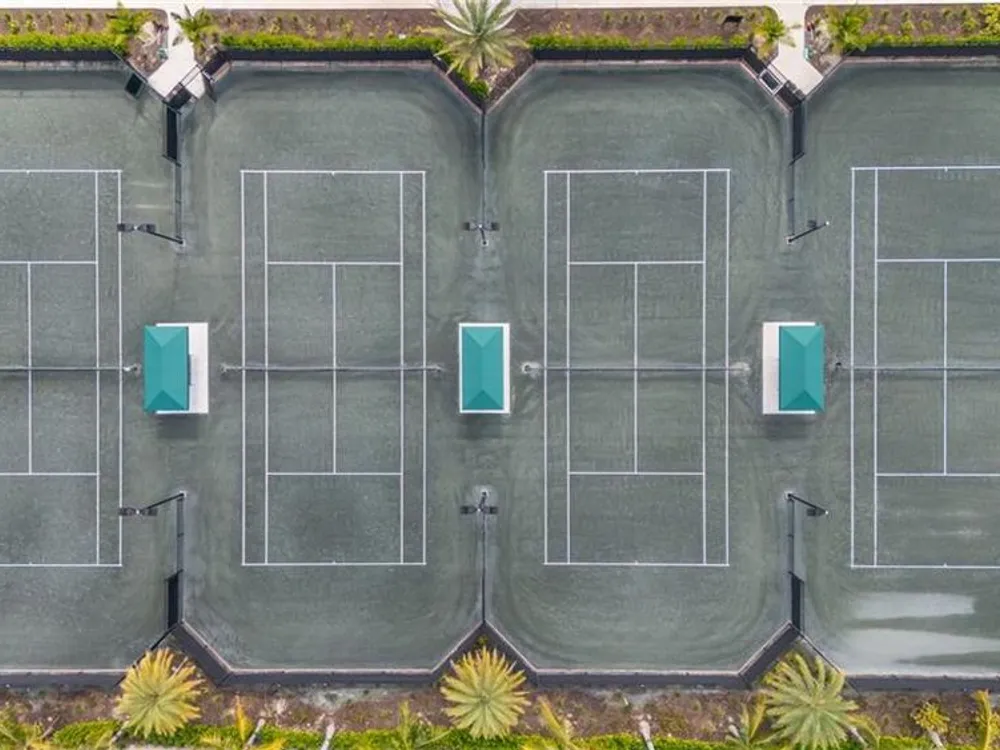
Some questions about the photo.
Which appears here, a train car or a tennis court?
tennis court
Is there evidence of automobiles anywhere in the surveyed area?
No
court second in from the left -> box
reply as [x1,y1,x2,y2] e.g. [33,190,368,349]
[181,60,484,673]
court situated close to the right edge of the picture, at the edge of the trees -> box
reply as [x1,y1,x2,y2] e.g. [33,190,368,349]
[790,57,1000,675]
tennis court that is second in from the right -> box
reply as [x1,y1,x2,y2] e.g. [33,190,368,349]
[484,59,790,674]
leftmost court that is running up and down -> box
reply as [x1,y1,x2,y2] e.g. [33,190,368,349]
[0,62,183,672]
